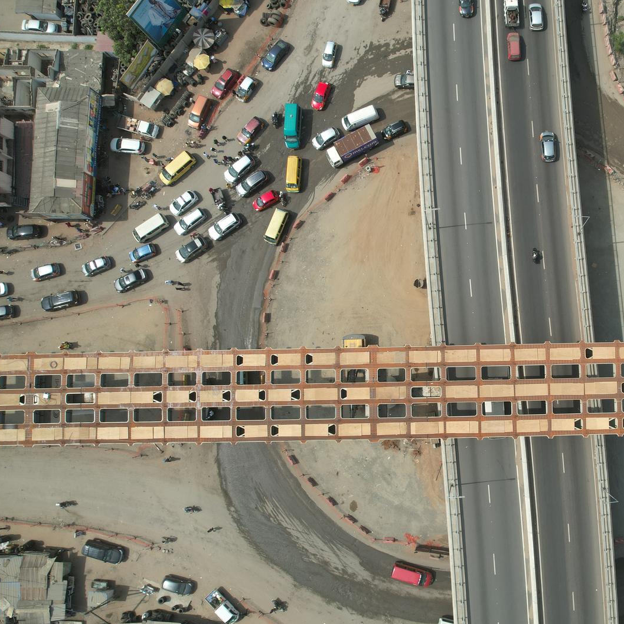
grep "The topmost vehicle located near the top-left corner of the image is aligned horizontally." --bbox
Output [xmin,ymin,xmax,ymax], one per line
[22,18,60,31]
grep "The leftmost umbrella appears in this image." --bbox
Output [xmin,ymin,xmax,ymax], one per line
[156,77,175,95]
